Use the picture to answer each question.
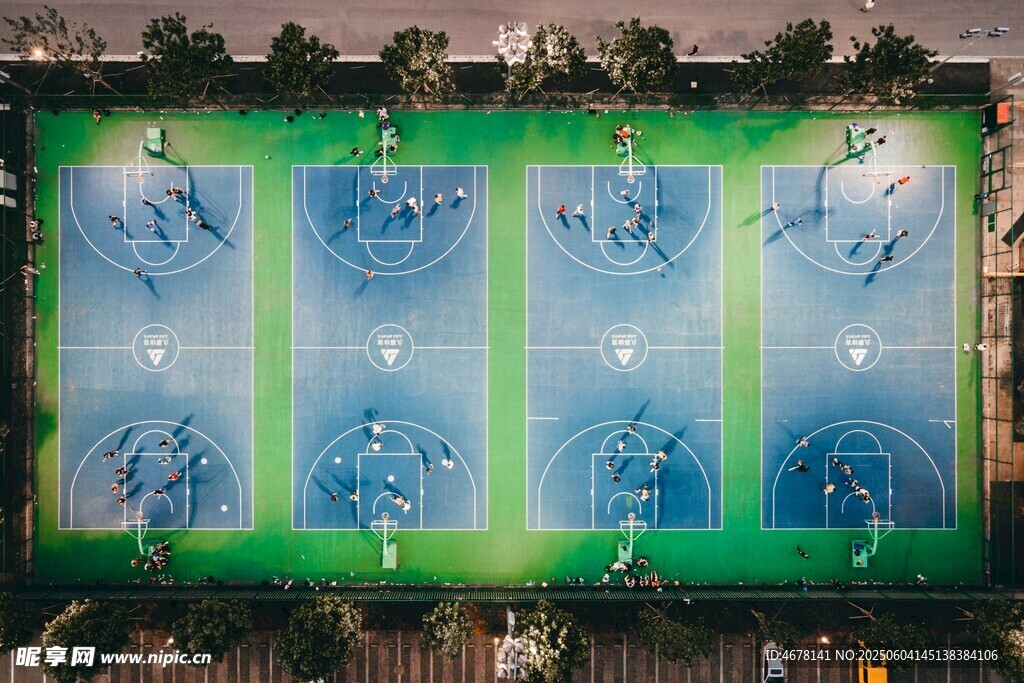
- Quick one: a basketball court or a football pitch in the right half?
basketball court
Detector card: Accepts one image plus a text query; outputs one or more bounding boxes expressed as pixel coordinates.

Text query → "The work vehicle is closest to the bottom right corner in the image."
[861,639,893,683]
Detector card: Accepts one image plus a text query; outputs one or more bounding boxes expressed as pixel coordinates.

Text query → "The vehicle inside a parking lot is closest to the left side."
[759,644,788,683]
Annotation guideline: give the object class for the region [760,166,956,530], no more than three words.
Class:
basketball court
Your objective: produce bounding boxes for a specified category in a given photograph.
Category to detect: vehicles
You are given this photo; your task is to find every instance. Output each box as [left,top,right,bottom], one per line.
[861,639,893,683]
[759,644,788,683]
